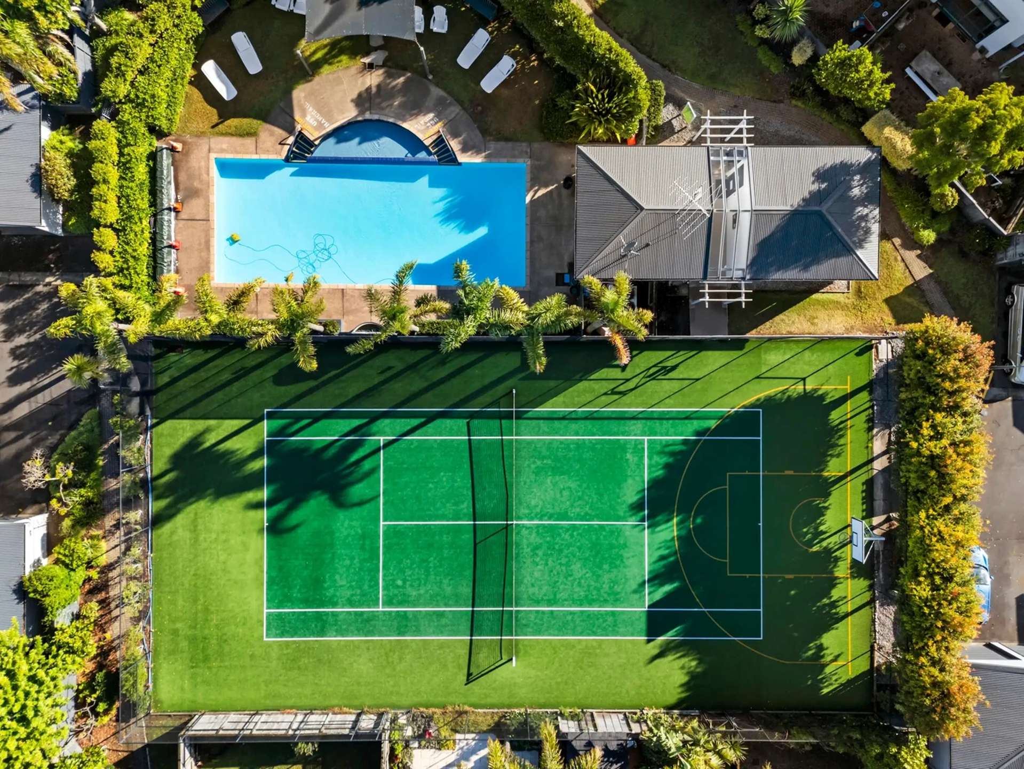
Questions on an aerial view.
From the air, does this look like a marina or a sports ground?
sports ground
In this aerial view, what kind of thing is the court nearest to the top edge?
tennis court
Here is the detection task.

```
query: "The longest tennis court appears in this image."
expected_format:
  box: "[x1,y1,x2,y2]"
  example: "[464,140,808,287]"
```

[152,342,874,712]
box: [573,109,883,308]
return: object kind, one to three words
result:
building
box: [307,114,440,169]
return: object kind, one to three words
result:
swimming pool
